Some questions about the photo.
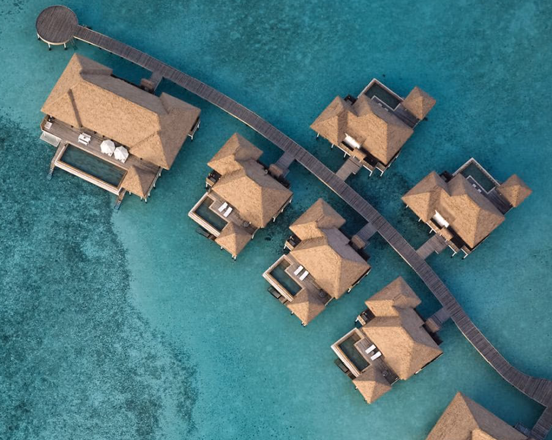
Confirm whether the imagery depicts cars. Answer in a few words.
No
